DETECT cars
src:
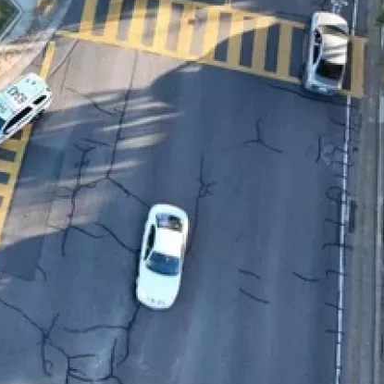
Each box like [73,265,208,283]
[298,12,356,99]
[0,73,57,151]
[133,201,191,316]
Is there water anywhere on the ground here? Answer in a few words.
No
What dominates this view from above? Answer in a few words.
paved ground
